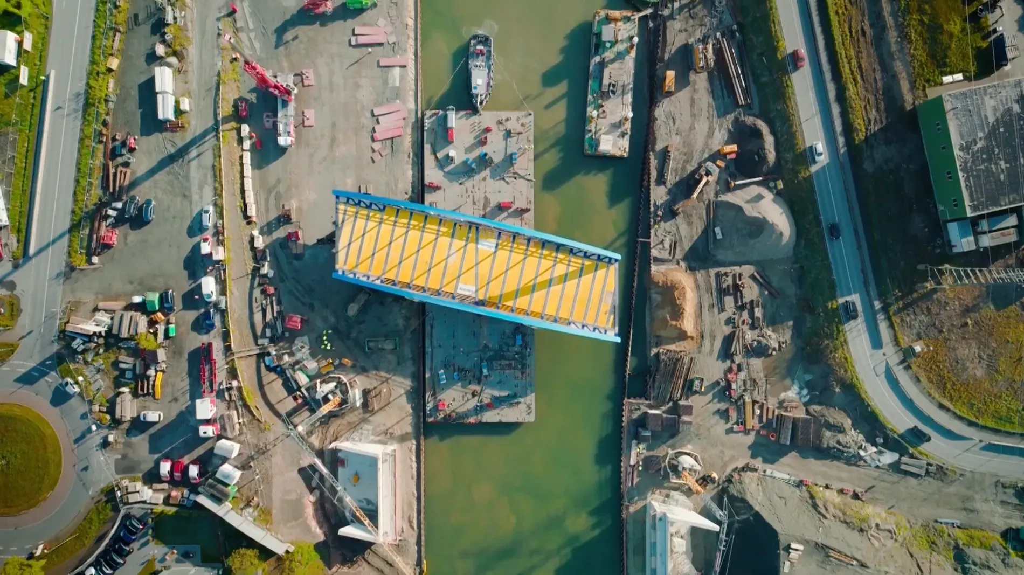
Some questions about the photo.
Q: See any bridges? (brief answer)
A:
Yes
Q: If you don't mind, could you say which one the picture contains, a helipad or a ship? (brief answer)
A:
ship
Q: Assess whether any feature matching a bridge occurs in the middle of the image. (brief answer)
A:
Yes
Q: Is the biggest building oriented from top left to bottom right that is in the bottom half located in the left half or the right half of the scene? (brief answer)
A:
left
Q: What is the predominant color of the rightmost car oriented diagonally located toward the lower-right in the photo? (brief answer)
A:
black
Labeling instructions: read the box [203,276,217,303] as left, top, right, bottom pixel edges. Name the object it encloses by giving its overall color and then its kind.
white vehicle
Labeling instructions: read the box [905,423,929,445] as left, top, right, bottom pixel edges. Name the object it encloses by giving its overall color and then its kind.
black car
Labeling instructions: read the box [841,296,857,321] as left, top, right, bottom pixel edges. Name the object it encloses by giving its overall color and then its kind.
black car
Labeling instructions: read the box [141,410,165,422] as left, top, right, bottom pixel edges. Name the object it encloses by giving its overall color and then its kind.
white vehicle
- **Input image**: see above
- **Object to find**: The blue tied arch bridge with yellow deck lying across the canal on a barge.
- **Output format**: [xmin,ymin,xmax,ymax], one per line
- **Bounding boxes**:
[331,189,622,342]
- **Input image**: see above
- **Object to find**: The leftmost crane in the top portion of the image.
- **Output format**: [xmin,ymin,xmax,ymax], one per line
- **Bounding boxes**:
[221,34,314,147]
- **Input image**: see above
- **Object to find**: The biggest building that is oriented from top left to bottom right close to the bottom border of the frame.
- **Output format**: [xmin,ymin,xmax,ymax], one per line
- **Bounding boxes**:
[196,487,297,554]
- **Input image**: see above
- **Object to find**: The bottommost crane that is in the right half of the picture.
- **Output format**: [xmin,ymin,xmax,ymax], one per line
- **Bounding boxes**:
[662,445,740,575]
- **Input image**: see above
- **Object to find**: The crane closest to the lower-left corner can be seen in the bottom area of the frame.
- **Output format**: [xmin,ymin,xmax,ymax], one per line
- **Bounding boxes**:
[281,366,418,575]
